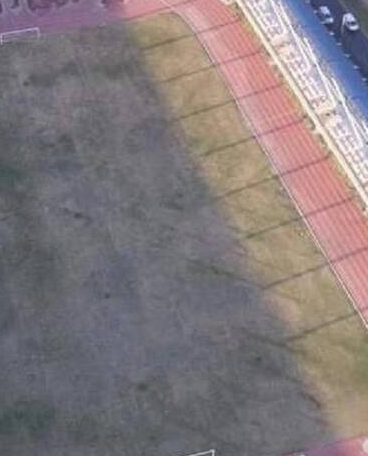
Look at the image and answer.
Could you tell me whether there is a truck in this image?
No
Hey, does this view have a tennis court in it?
No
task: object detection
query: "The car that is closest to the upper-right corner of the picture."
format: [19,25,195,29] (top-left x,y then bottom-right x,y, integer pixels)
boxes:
[342,13,358,28]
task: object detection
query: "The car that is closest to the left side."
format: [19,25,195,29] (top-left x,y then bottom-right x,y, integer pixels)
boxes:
[320,7,334,22]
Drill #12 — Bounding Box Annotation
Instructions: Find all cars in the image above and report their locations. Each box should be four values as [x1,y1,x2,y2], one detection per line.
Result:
[320,7,334,22]
[342,13,358,28]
